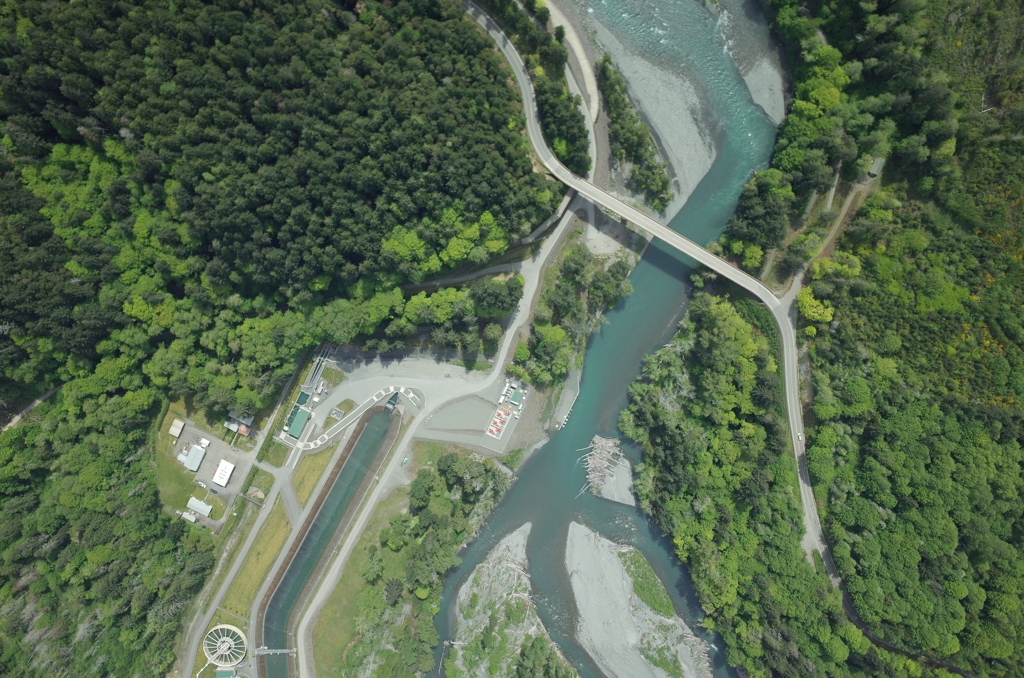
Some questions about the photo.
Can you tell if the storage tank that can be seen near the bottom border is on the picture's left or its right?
left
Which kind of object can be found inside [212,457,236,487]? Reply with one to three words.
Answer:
building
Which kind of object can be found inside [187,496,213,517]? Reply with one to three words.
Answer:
house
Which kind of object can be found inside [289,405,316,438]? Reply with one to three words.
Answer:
building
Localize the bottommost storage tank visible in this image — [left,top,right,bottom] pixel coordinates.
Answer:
[196,623,249,678]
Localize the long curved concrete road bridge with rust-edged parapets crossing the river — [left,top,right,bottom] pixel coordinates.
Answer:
[542,153,785,315]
